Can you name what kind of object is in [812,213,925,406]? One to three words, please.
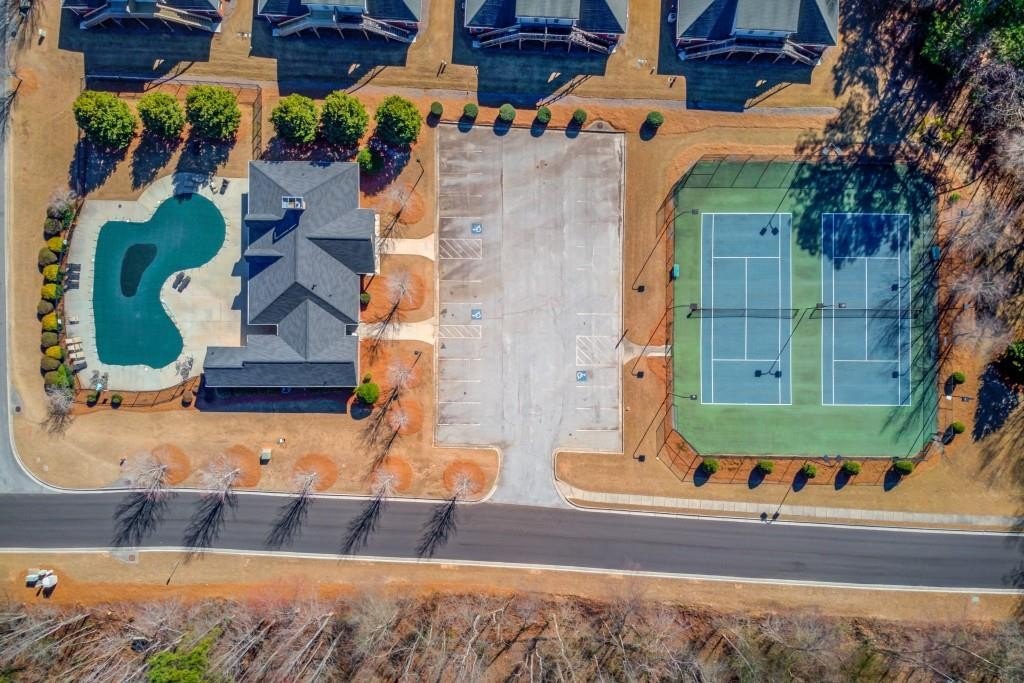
tennis court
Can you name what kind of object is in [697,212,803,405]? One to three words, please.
tennis court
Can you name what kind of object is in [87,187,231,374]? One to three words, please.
swimming pool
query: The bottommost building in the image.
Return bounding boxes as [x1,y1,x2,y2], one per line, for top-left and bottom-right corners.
[199,160,381,388]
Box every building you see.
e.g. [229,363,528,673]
[199,160,381,388]
[61,0,229,32]
[464,0,628,52]
[676,0,841,64]
[257,0,420,41]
